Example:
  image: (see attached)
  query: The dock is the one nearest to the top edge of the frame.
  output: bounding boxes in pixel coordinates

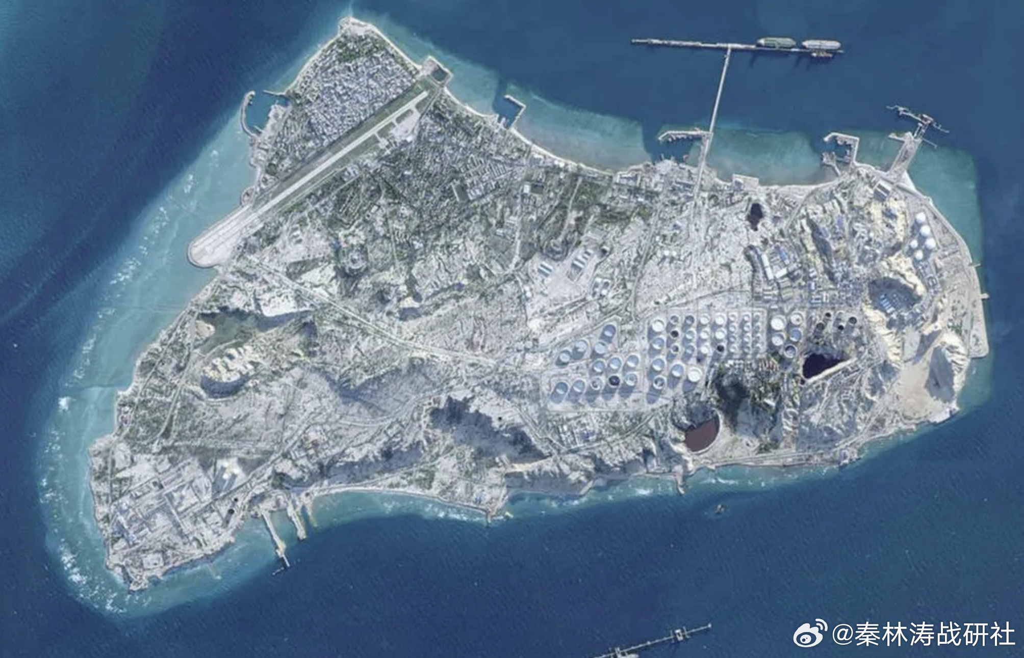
[631,39,844,51]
